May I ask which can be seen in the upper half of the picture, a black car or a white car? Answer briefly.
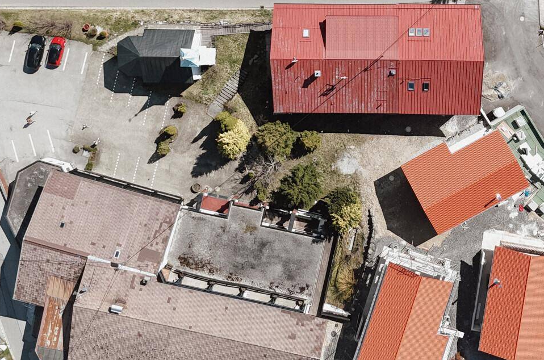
black car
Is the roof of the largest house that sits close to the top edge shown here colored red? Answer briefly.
Yes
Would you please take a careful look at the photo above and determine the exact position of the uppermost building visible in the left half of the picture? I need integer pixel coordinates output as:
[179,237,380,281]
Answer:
[117,29,216,83]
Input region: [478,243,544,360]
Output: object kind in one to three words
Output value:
house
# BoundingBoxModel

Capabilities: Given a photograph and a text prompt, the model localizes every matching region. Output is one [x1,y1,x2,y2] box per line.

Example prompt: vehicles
[26,35,48,71]
[47,36,67,67]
